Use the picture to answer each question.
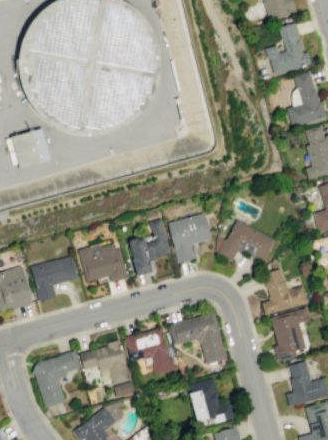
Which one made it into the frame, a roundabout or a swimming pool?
swimming pool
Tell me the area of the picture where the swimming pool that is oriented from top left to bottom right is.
right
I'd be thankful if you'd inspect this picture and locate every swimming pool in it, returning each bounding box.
[121,412,138,435]
[237,199,260,220]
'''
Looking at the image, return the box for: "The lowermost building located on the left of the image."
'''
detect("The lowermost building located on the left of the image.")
[73,400,124,440]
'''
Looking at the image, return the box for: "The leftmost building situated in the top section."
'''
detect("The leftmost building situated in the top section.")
[7,128,51,169]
